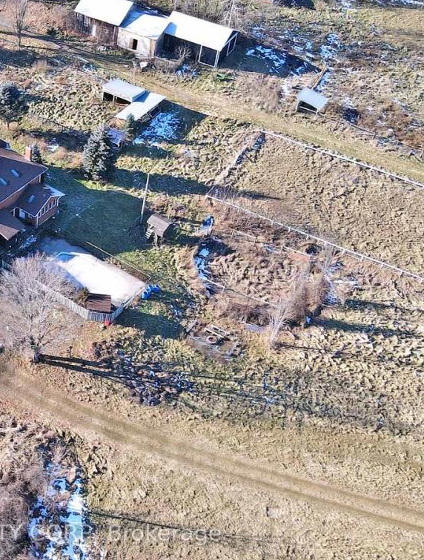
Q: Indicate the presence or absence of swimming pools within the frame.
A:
Yes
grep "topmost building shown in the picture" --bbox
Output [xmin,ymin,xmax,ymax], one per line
[72,0,246,67]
